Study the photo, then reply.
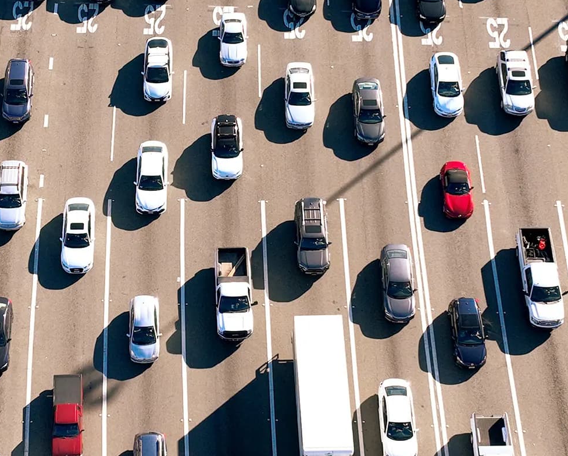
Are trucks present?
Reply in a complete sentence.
Yes, a truck can be made out from above.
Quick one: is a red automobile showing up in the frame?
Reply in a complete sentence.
Yes, a red automobile can be made out from above.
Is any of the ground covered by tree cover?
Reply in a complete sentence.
No, the scene doesn't show any tree cover.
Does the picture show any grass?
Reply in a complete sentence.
No, grass can't be seen anywhere here.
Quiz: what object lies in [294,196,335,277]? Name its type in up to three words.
car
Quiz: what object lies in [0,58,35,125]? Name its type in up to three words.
car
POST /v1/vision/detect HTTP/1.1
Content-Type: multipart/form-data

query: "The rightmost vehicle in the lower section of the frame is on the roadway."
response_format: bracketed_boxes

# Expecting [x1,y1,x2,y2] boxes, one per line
[516,227,568,329]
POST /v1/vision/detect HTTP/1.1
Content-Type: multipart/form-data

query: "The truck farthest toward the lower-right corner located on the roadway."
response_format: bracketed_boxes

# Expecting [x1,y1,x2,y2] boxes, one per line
[466,410,508,456]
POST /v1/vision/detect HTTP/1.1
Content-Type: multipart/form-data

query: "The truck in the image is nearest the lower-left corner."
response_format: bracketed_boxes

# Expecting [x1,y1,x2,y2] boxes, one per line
[45,374,87,456]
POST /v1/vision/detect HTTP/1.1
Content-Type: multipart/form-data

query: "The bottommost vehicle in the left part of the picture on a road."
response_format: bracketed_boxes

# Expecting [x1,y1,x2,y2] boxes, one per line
[133,429,167,456]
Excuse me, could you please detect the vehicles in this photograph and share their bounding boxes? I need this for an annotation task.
[133,429,167,456]
[283,60,317,131]
[208,113,246,181]
[45,374,87,456]
[289,0,316,19]
[218,12,251,69]
[125,293,164,365]
[466,410,508,456]
[377,375,421,456]
[438,159,476,220]
[288,315,354,456]
[141,35,176,104]
[351,75,388,147]
[0,295,13,374]
[516,227,568,329]
[59,195,96,276]
[0,159,28,232]
[428,50,467,119]
[352,0,380,20]
[0,58,35,125]
[213,247,257,341]
[447,295,491,372]
[294,196,335,277]
[379,241,420,325]
[496,50,539,117]
[415,0,446,25]
[134,139,170,216]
